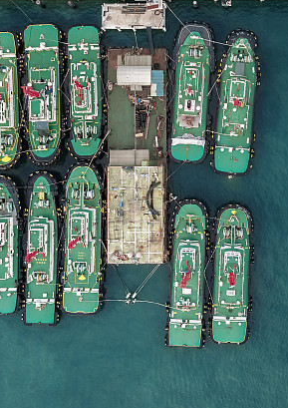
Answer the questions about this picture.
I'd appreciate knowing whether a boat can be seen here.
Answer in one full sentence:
Yes, this view includes a boat.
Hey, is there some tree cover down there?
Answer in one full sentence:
No, the scene doesn't show any tree cover.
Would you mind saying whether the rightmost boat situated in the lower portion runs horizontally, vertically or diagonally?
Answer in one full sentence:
The rightmost boat situated in the lower portion is laid out vertically.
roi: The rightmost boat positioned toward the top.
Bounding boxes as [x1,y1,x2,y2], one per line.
[213,27,261,179]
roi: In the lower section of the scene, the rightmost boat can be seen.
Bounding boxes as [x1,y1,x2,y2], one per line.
[210,201,254,345]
